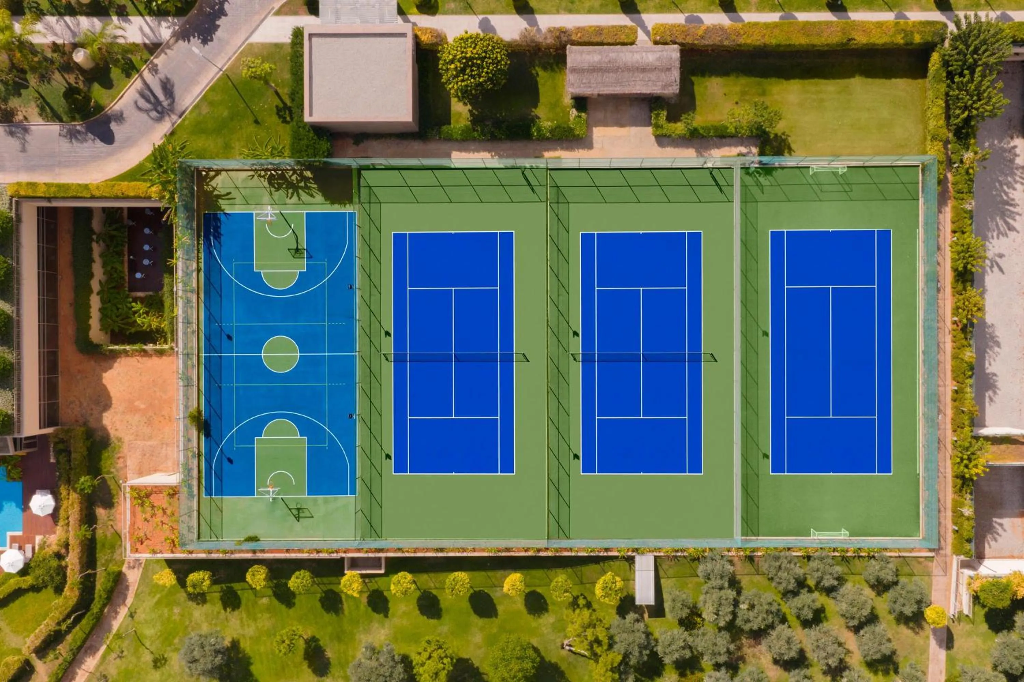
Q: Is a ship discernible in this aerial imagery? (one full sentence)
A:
No, this view has no ship in it.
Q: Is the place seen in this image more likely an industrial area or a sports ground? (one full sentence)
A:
This looks like a sports ground.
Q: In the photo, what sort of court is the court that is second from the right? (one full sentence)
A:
The court that is second from the right appears to be a tennis court.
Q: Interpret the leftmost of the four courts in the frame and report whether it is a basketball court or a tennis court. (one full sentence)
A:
It looks like the leftmost of the four courts is a basketball court.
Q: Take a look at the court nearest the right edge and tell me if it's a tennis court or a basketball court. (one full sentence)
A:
I'd say the court nearest the right edge is a tennis court.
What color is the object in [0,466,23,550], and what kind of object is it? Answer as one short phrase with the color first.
blue swimming pool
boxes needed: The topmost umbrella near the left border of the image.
[29,491,58,516]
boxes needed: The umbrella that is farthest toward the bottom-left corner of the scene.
[0,549,25,573]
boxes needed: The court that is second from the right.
[549,166,733,540]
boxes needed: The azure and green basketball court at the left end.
[198,166,357,540]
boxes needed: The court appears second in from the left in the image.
[361,166,547,540]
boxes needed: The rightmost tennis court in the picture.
[742,166,920,538]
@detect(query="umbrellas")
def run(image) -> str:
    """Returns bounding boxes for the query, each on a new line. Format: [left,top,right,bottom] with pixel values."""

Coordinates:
[29,491,58,516]
[0,549,25,573]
